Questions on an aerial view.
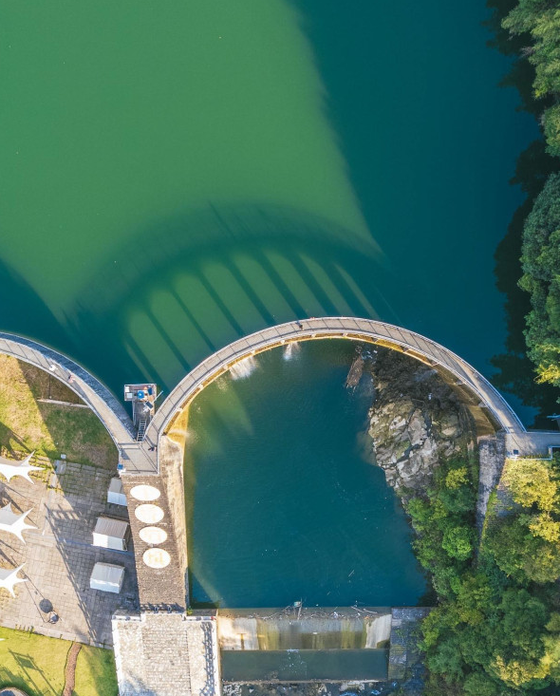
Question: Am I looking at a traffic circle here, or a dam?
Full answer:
Visible in the photo is a dam.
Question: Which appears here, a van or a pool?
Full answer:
Of the two, only a pool appears.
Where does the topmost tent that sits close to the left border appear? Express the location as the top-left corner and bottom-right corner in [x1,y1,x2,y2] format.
[0,448,47,485]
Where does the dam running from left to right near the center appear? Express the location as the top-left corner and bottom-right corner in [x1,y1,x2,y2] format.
[145,316,519,439]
